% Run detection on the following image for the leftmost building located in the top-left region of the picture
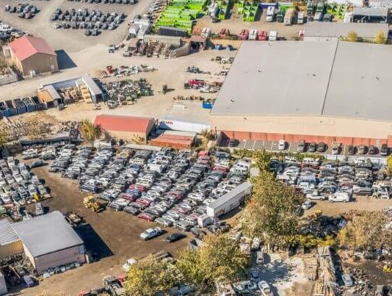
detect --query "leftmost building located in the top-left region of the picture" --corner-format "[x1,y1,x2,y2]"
[7,34,58,75]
